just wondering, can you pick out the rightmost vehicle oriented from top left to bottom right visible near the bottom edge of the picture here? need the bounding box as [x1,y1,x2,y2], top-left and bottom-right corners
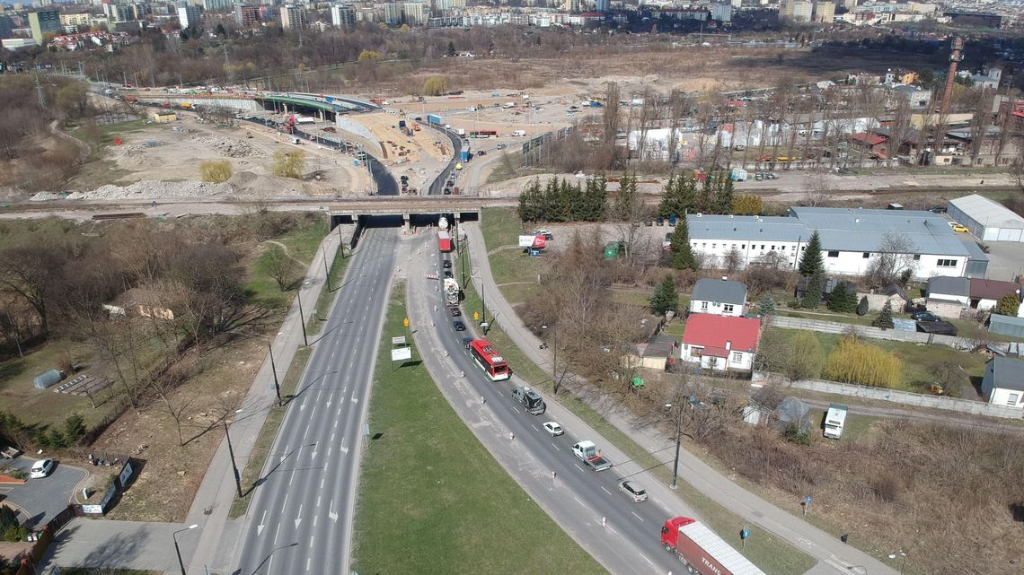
[659,509,768,575]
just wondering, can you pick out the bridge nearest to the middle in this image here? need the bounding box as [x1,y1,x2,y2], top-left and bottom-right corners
[318,194,490,238]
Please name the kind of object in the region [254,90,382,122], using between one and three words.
bridge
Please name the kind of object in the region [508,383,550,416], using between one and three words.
truck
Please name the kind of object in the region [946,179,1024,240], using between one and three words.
hangar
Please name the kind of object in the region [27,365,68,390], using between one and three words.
greenhouse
